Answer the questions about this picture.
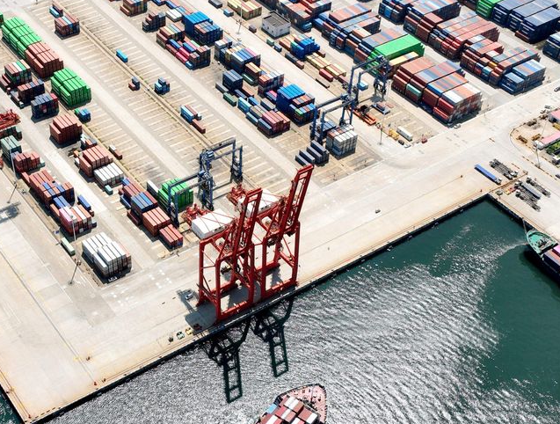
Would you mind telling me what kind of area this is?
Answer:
port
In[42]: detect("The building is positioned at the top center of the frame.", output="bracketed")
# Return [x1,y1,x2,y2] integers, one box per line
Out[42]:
[260,11,291,37]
